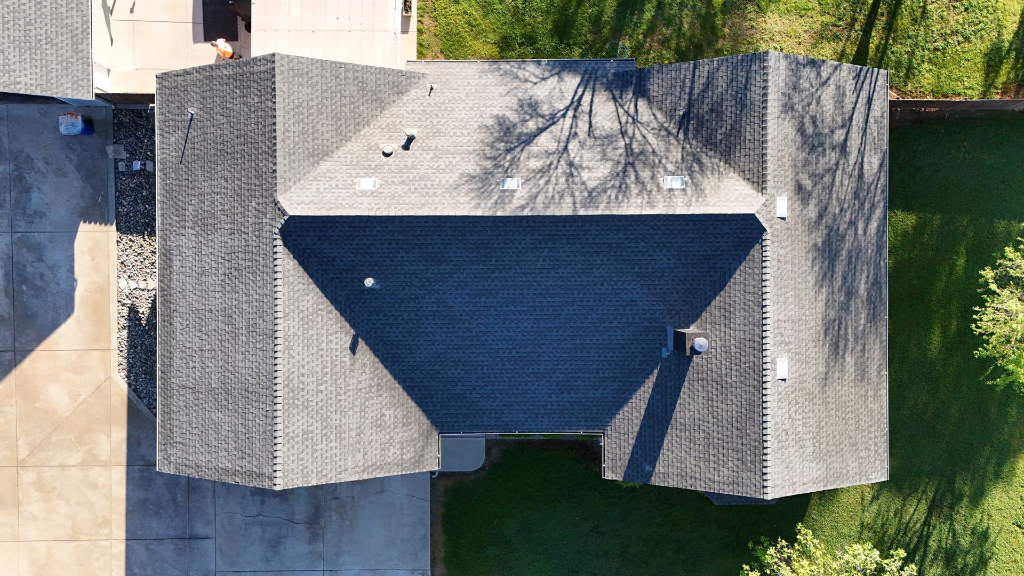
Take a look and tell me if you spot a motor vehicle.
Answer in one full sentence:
No, no motor vehicle is visible in the scene.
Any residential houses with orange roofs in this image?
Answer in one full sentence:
No, there's no residential house with an orange roof here.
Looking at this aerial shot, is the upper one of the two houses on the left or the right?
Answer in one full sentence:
It is on the left.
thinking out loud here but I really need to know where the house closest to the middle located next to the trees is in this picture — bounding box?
[153,49,891,504]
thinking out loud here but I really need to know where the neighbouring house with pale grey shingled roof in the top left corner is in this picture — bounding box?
[0,0,115,110]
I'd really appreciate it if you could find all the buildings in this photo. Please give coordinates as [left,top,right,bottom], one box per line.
[153,49,891,504]
[0,0,115,110]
